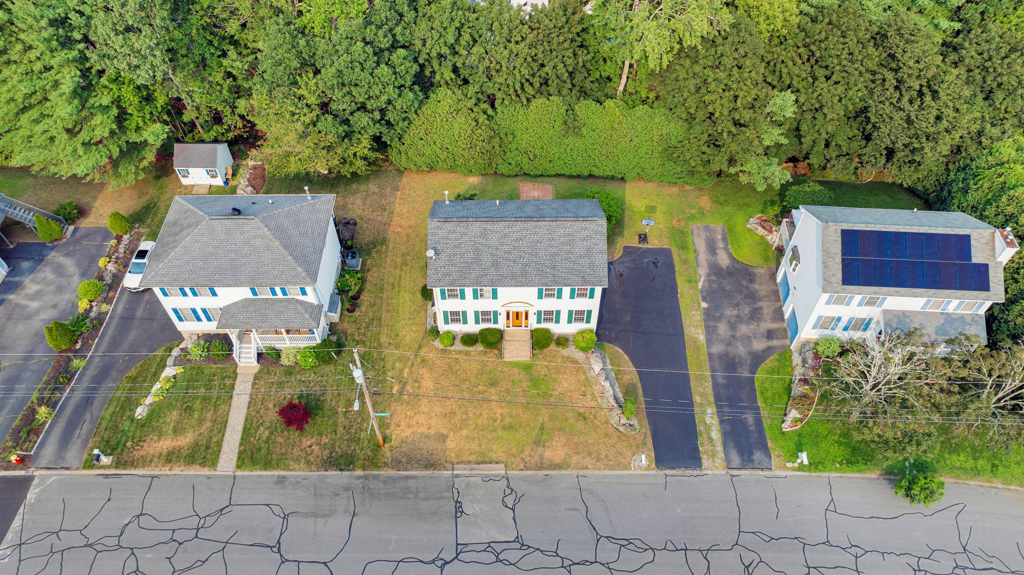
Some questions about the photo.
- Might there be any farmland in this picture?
No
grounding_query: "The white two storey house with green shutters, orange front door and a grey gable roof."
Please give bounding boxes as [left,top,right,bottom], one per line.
[425,194,608,360]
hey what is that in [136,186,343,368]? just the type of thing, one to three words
house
